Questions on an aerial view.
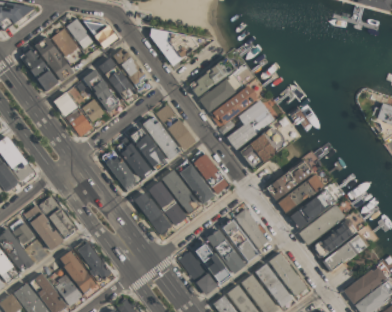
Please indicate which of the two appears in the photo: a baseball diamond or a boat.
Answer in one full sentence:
This aerial view contains a boat.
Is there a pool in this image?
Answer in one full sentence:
No, no pool can be seen from above.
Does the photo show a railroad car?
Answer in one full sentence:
No, I can't see a single railroad car in this photo.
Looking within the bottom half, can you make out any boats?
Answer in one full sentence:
Yes, a boat appears within the bottom half.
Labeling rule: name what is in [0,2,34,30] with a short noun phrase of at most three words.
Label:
building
